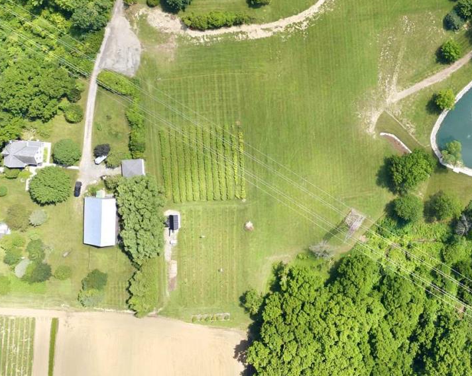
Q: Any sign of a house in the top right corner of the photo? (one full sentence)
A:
No, no house can be made out in the top right corner of the photo.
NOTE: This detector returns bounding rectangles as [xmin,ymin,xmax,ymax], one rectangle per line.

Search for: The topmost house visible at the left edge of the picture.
[1,140,47,168]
